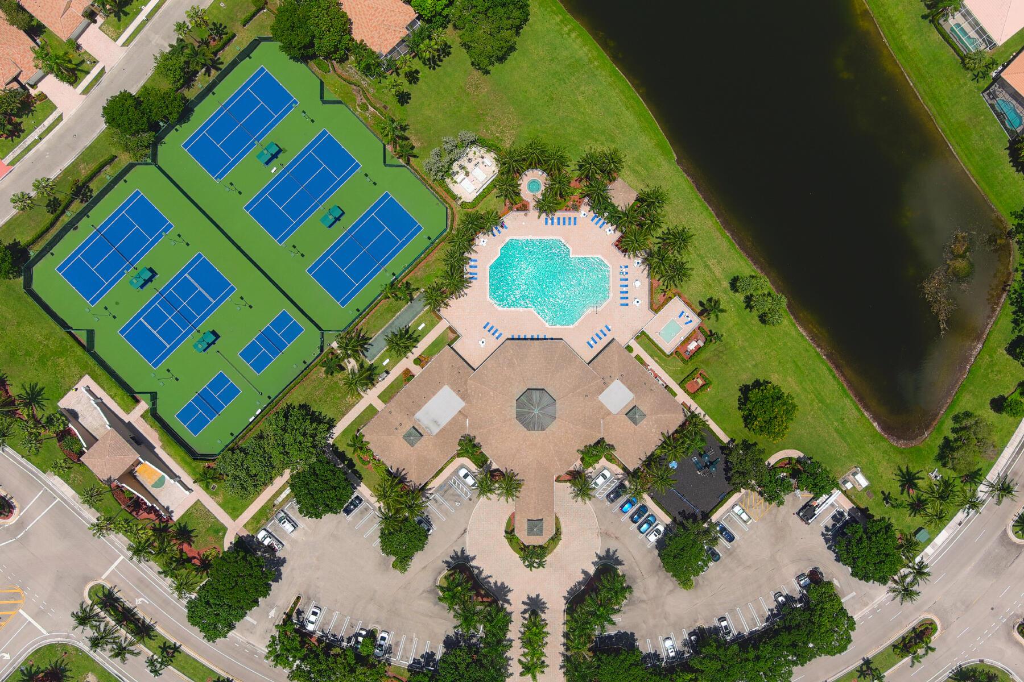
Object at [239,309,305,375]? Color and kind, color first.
blue sports court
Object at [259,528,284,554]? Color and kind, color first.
white vehicle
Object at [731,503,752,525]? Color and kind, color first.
white car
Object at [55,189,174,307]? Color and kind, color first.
blue tennis court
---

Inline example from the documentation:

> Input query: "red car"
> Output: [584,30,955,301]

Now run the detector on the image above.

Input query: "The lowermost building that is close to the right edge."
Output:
[993,48,1024,110]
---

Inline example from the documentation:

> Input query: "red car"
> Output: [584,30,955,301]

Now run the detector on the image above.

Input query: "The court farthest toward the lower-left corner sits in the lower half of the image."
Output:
[136,460,165,489]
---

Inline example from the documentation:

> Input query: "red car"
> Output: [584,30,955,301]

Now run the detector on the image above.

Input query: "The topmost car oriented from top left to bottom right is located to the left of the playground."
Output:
[458,467,477,488]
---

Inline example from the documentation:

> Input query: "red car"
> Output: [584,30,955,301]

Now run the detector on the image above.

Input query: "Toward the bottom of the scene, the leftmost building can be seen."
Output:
[51,385,193,515]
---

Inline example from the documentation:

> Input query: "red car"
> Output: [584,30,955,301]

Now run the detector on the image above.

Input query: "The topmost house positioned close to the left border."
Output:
[19,0,104,42]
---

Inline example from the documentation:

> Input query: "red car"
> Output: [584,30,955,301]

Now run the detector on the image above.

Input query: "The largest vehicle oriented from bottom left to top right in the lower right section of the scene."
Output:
[791,493,828,531]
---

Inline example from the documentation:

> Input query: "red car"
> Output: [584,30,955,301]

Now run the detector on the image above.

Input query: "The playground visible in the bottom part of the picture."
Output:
[636,427,735,519]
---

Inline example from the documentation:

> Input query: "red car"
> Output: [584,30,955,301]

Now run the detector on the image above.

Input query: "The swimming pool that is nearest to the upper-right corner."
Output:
[949,22,979,50]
